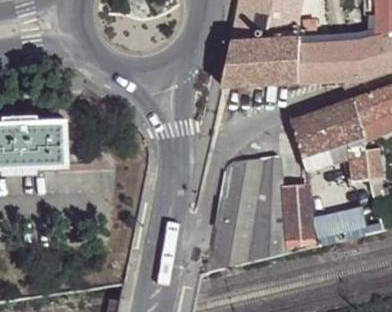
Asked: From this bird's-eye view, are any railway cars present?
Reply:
No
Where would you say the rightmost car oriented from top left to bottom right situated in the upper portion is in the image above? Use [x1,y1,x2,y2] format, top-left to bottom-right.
[145,111,164,134]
